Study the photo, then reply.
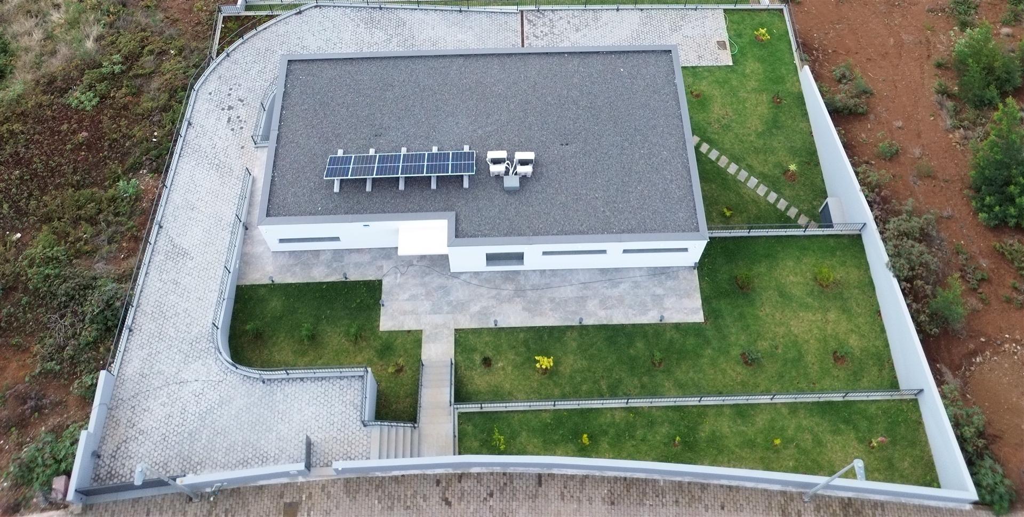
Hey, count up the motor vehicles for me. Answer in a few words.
0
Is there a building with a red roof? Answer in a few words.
No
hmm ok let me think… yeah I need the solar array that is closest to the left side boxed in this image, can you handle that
[324,146,476,194]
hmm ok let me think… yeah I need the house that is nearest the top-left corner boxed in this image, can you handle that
[259,45,708,274]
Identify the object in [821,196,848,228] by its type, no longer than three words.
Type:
shed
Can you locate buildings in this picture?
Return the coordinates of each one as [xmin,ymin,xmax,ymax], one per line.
[821,196,848,228]
[259,45,708,274]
